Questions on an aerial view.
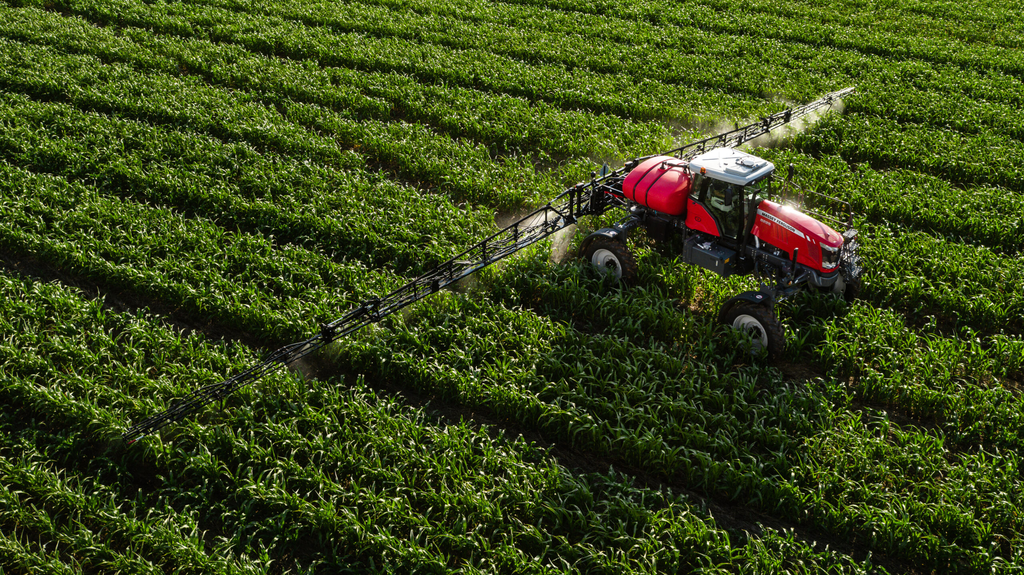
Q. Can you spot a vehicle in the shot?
No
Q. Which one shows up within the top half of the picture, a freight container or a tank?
tank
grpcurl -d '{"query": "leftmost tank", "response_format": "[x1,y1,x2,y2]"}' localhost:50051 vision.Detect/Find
[619,146,704,210]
